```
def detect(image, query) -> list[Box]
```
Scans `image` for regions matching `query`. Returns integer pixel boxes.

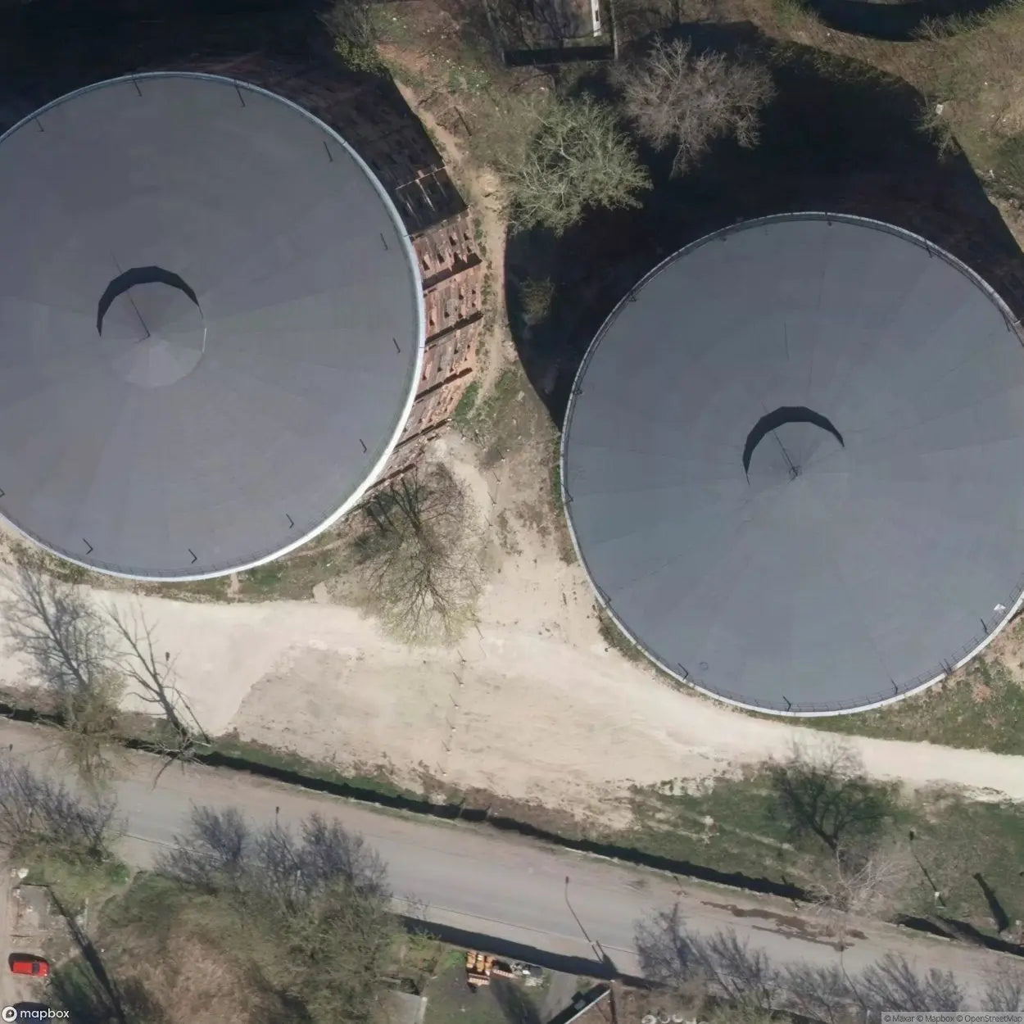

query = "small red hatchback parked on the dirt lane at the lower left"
[12,958,51,977]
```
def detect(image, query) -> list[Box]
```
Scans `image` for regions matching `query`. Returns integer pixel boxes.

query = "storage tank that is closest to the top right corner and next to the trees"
[562,196,1024,714]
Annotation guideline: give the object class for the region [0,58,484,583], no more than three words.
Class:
storage tank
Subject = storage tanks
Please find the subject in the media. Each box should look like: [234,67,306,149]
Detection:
[562,196,1024,714]
[0,58,484,583]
